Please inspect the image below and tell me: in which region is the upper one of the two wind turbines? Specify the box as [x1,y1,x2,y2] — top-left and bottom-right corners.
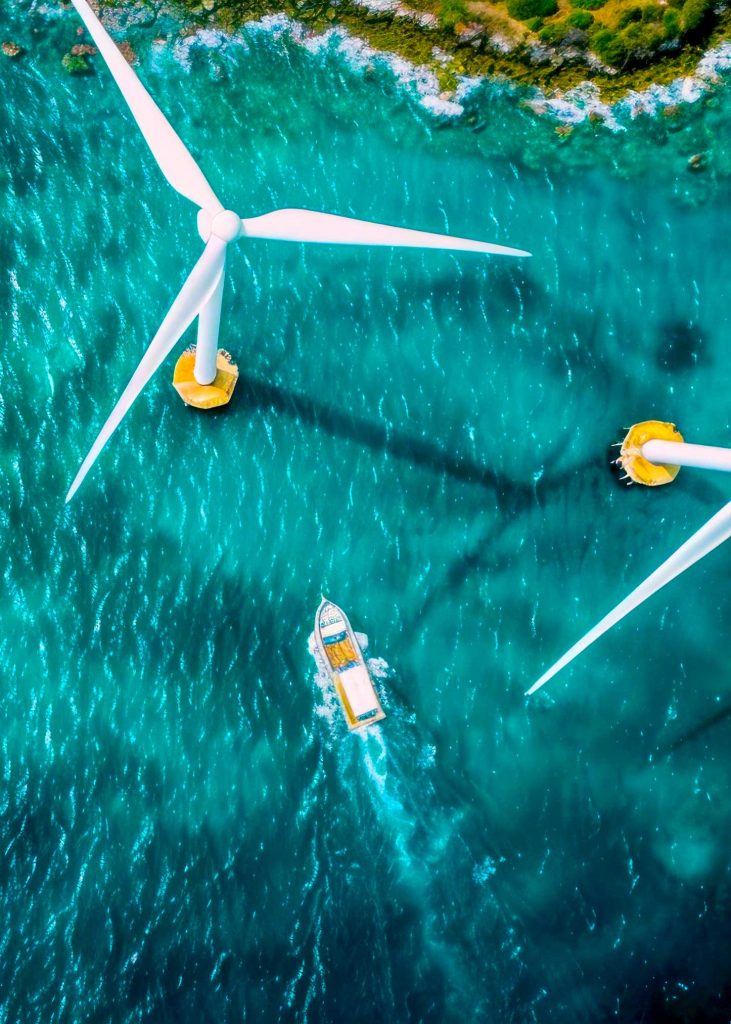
[66,0,533,502]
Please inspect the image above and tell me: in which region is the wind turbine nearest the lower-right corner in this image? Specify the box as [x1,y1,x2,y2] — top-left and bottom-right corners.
[527,420,731,695]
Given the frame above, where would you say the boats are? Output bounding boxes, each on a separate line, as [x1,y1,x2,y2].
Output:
[318,595,385,730]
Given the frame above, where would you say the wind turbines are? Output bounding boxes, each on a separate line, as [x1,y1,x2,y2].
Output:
[66,0,533,502]
[527,420,731,695]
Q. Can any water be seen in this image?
Yes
